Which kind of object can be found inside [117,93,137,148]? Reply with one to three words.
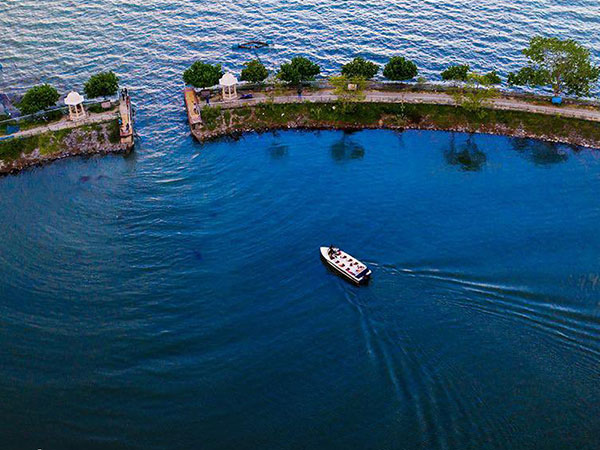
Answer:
pier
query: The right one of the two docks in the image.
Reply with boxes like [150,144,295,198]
[182,87,207,137]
